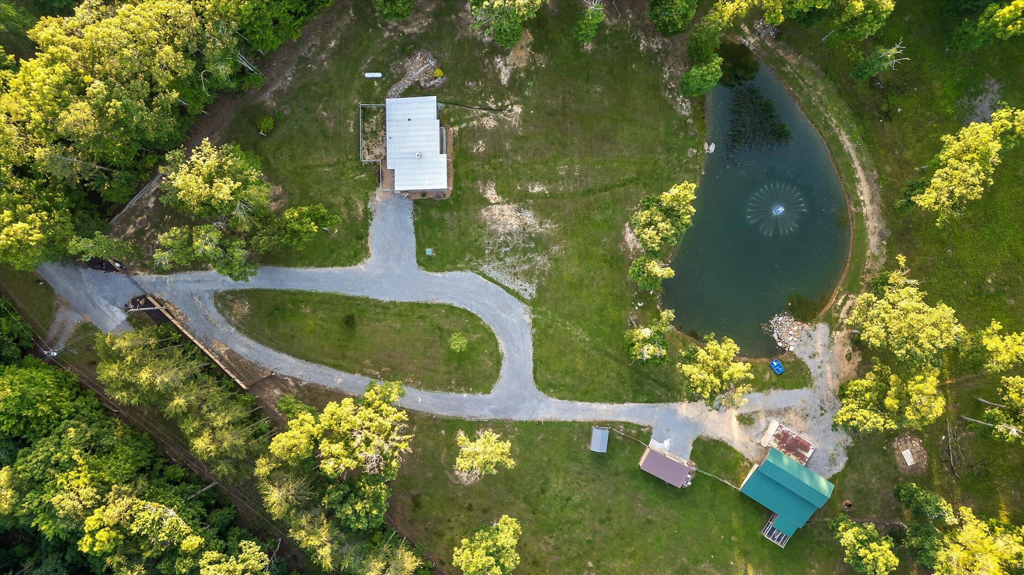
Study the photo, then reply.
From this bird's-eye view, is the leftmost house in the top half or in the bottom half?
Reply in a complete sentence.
The top half of the photo is where the leftmost house is.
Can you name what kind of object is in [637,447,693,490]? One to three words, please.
building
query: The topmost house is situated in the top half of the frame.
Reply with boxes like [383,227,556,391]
[386,96,452,194]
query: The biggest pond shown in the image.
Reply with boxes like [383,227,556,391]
[662,42,851,359]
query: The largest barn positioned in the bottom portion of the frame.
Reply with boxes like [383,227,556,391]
[739,447,834,537]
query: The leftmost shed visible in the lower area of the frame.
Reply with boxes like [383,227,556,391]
[590,426,609,453]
